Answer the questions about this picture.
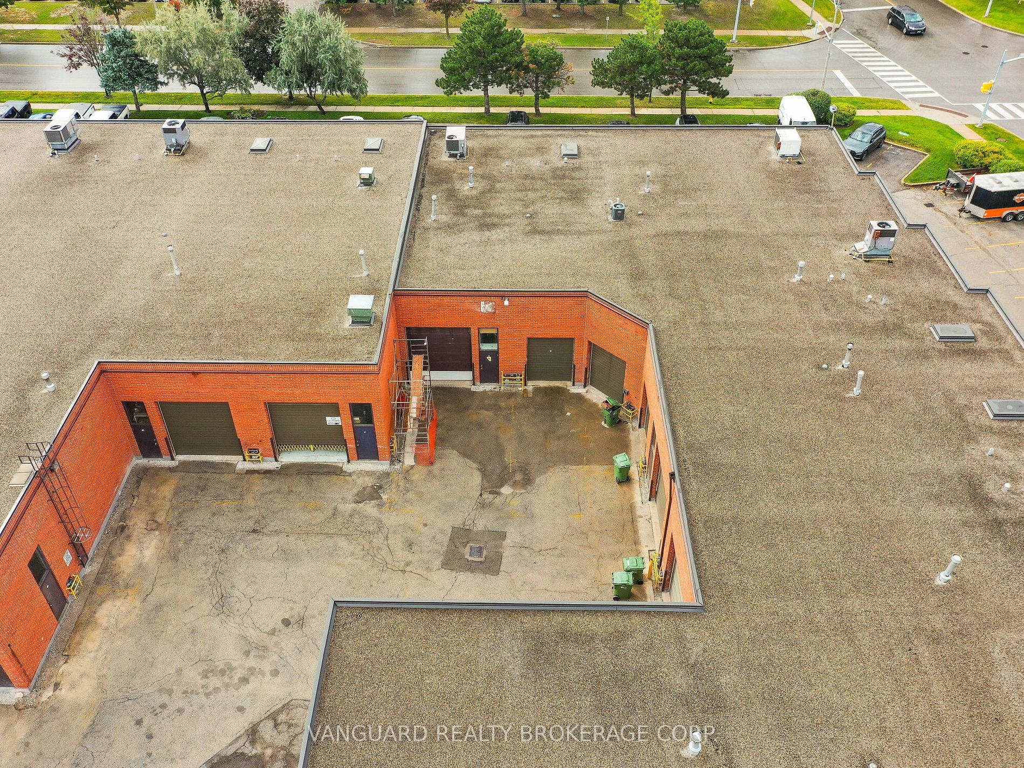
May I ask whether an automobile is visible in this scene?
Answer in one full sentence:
Yes, there's an automobile down there.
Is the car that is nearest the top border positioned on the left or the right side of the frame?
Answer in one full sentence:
It is on the right.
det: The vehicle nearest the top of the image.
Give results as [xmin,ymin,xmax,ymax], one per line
[883,0,932,36]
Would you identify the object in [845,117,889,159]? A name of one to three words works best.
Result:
car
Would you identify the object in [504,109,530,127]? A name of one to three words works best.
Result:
car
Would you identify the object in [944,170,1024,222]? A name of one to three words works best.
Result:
trailer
